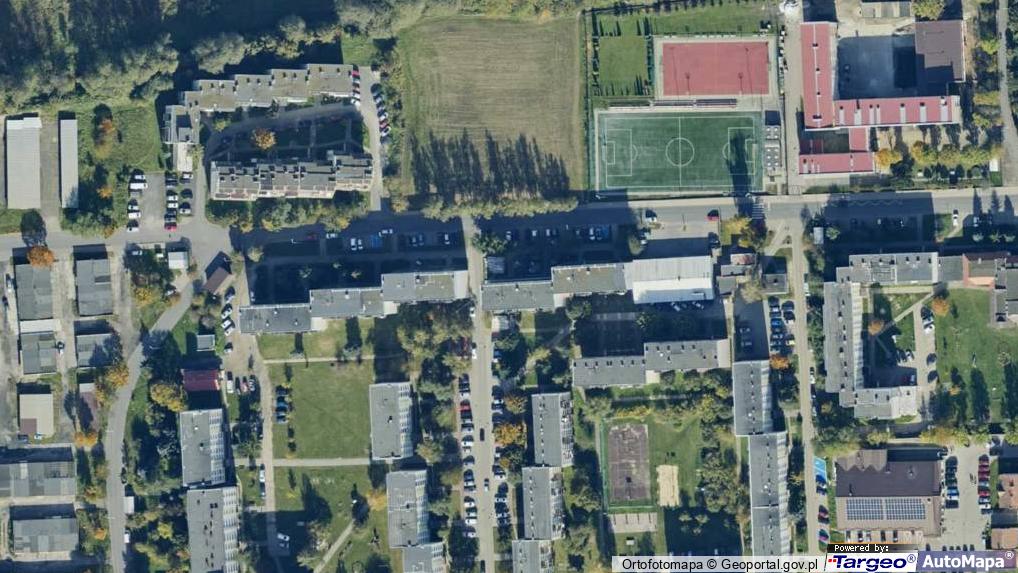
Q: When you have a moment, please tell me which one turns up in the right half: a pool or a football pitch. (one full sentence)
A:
The one visible in the right half is a football pitch.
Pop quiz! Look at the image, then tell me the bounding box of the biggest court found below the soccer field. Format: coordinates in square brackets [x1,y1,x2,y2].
[604,419,656,507]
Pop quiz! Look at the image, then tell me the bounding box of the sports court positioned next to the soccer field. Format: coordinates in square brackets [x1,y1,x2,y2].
[653,35,778,98]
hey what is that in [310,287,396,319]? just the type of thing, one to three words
building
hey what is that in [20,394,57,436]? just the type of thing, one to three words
building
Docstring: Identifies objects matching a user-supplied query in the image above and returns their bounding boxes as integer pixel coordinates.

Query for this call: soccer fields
[594,103,764,197]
